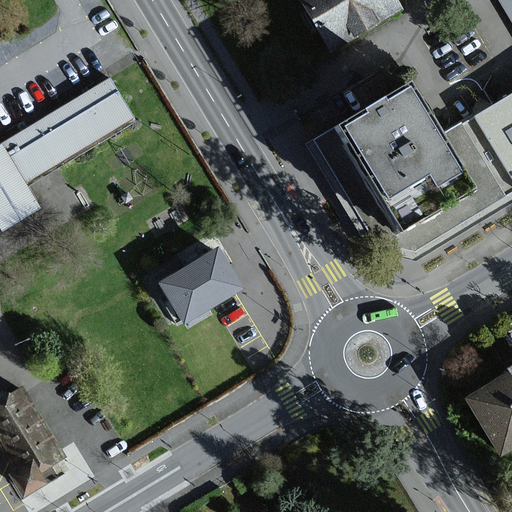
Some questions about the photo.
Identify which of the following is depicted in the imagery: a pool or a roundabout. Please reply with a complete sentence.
I can see a roundabout in this picture.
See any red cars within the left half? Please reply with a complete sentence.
Yes, looking within the left half, one can make out a red car.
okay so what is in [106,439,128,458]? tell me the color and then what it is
white vehicle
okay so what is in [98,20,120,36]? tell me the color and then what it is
white car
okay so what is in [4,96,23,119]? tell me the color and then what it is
black car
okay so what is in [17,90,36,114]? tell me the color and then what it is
white car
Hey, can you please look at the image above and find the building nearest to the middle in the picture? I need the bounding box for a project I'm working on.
[158,246,244,328]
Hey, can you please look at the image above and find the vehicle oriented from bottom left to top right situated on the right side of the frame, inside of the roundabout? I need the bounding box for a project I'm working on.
[392,352,415,372]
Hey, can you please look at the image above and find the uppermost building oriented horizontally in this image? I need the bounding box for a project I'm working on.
[302,0,418,52]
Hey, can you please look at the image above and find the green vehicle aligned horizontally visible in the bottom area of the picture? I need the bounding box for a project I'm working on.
[362,308,398,325]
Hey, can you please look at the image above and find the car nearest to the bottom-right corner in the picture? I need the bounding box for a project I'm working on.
[410,388,426,410]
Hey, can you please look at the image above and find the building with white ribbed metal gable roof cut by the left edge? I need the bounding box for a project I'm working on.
[0,142,41,232]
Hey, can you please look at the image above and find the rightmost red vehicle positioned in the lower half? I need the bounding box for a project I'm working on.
[222,307,244,324]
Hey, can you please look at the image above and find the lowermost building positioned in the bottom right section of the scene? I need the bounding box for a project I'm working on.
[465,368,512,456]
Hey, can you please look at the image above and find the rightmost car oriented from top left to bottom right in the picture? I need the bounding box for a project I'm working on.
[452,98,470,118]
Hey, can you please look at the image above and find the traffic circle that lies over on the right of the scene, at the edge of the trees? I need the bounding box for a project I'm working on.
[308,294,428,414]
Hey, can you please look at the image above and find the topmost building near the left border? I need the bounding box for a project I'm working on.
[0,77,136,184]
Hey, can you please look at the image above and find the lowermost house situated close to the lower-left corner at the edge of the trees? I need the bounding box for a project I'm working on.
[0,386,67,499]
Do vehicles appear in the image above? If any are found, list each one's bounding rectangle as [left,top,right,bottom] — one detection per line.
[294,212,312,236]
[452,98,470,118]
[284,182,301,202]
[17,90,36,114]
[86,51,103,72]
[468,50,488,66]
[444,63,468,81]
[232,150,250,172]
[61,382,82,400]
[217,298,238,314]
[86,407,108,426]
[422,32,438,46]
[90,10,112,26]
[458,38,482,56]
[410,388,426,410]
[237,327,258,343]
[61,61,80,84]
[432,42,453,60]
[438,52,460,68]
[362,308,398,325]
[42,78,58,100]
[4,96,23,119]
[98,20,120,36]
[392,352,415,372]
[106,439,128,458]
[70,396,90,414]
[28,82,45,102]
[72,55,92,78]
[343,88,361,112]
[222,307,244,324]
